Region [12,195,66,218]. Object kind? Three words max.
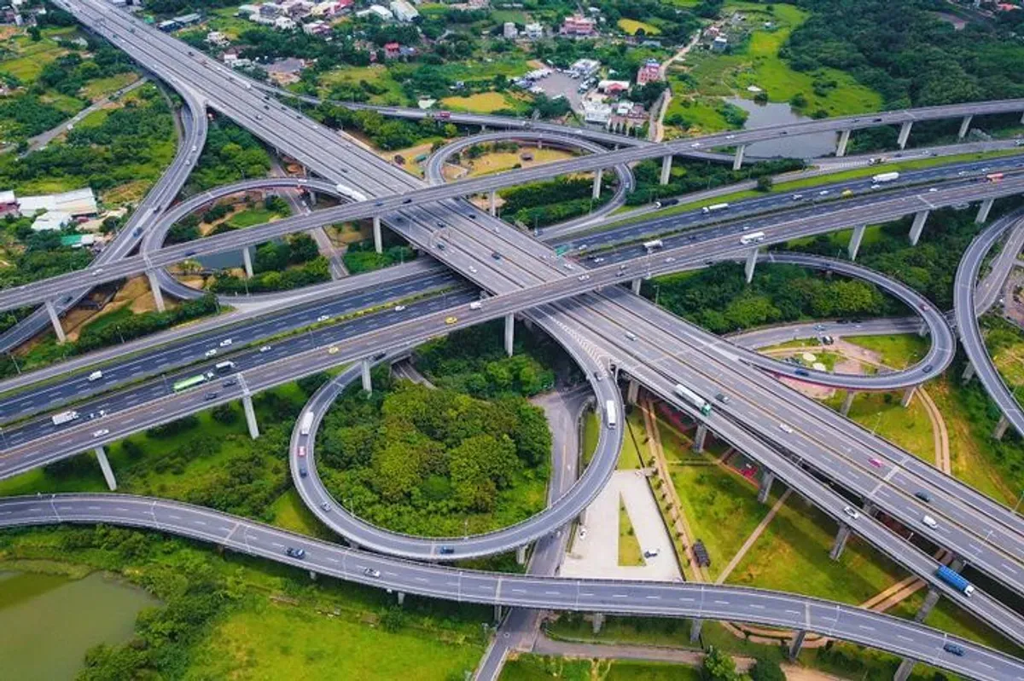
building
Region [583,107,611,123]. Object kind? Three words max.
building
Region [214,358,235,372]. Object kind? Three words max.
vehicle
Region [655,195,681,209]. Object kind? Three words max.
vehicle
